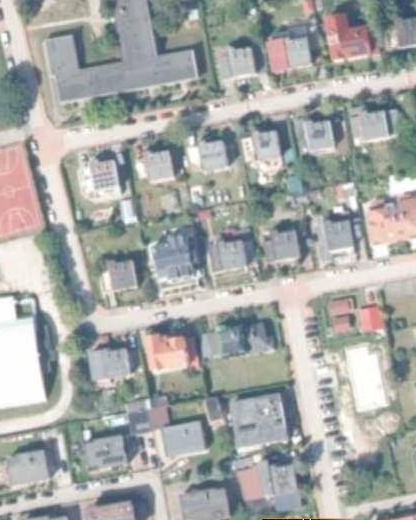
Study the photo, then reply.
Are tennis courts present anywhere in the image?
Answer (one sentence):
No, the scene contains no tennis court.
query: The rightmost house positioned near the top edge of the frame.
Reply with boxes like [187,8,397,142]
[387,18,416,51]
